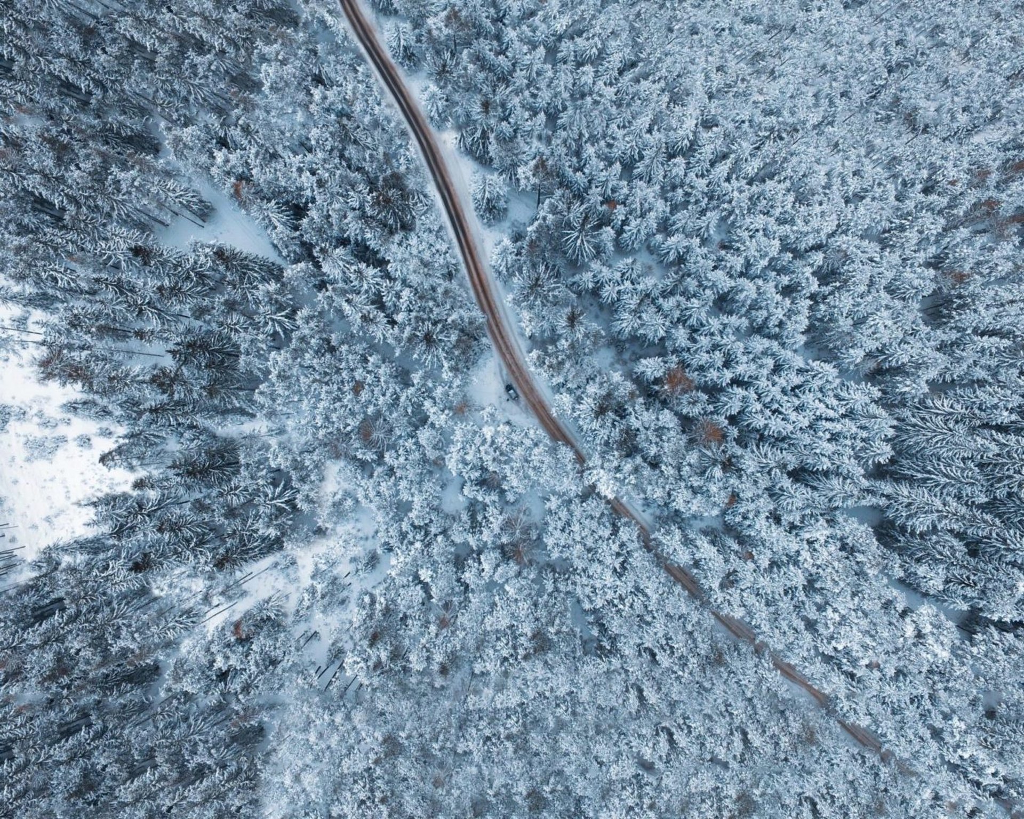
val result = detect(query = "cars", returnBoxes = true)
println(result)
[506,383,519,402]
